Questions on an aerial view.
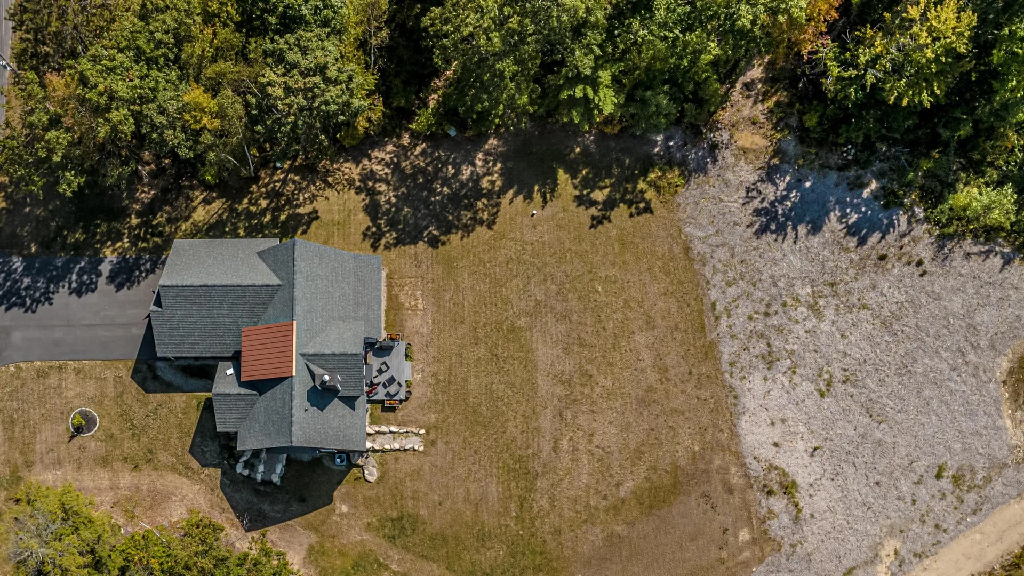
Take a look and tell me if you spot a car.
No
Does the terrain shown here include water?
No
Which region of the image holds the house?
left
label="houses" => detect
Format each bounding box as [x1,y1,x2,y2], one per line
[150,238,382,451]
